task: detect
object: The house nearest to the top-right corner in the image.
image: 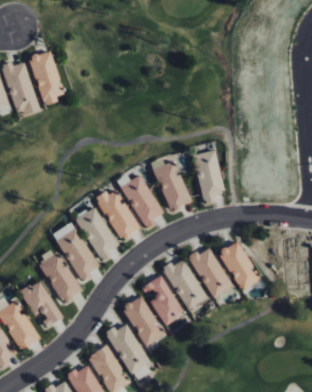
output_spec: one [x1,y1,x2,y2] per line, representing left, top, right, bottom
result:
[195,144,226,200]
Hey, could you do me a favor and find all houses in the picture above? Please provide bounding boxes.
[40,250,84,303]
[22,282,63,328]
[144,277,186,326]
[90,346,131,392]
[108,323,153,381]
[99,188,142,240]
[154,161,192,210]
[78,208,120,258]
[0,326,18,366]
[53,222,100,280]
[220,240,262,291]
[68,365,104,392]
[0,298,42,350]
[190,247,234,299]
[124,296,165,346]
[0,76,12,116]
[29,52,66,104]
[195,144,226,200]
[166,259,210,311]
[117,174,164,224]
[2,59,42,114]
